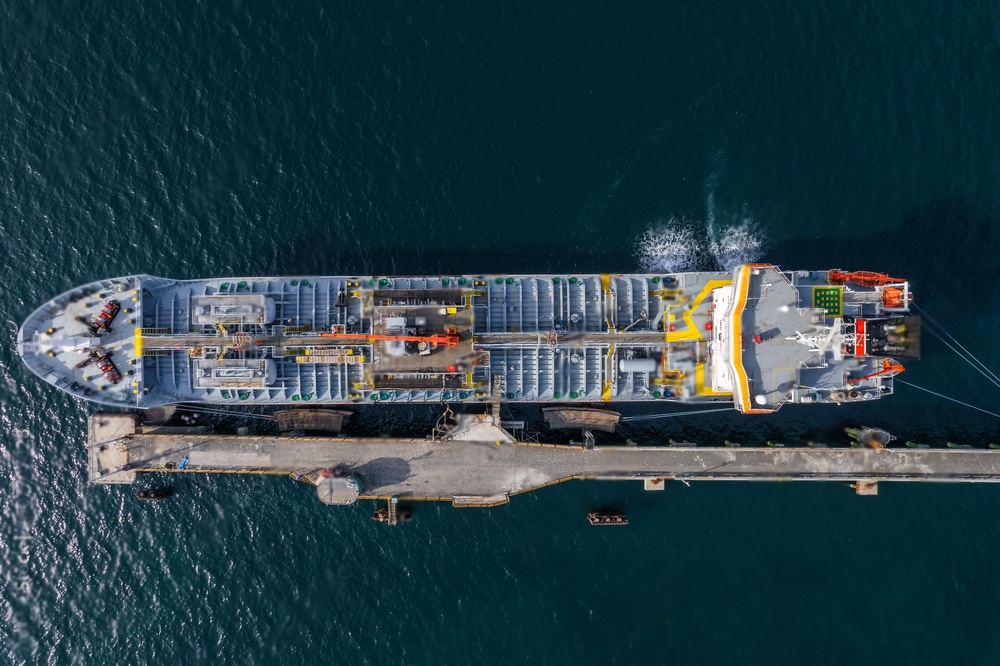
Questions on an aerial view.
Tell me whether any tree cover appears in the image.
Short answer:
No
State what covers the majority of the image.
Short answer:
water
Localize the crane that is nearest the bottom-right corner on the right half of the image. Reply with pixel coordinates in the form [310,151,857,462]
[843,358,901,384]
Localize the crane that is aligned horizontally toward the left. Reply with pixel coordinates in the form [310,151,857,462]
[316,327,460,349]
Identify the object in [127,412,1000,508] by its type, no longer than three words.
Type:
pier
